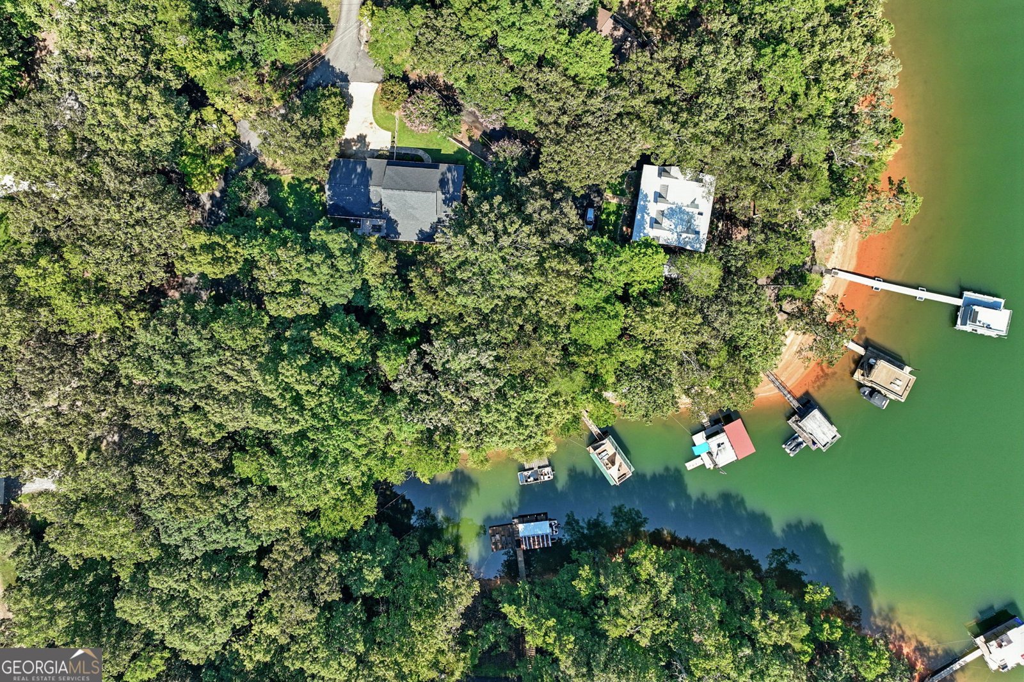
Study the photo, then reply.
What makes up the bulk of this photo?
trees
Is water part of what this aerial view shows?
Yes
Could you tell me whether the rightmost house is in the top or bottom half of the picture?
top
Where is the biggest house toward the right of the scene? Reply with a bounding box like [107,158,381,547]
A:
[630,167,712,252]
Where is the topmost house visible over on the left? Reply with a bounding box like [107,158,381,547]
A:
[327,158,467,242]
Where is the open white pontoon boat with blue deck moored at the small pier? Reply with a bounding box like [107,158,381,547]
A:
[519,467,555,484]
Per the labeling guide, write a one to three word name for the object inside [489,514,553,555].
pier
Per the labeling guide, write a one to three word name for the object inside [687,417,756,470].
pier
